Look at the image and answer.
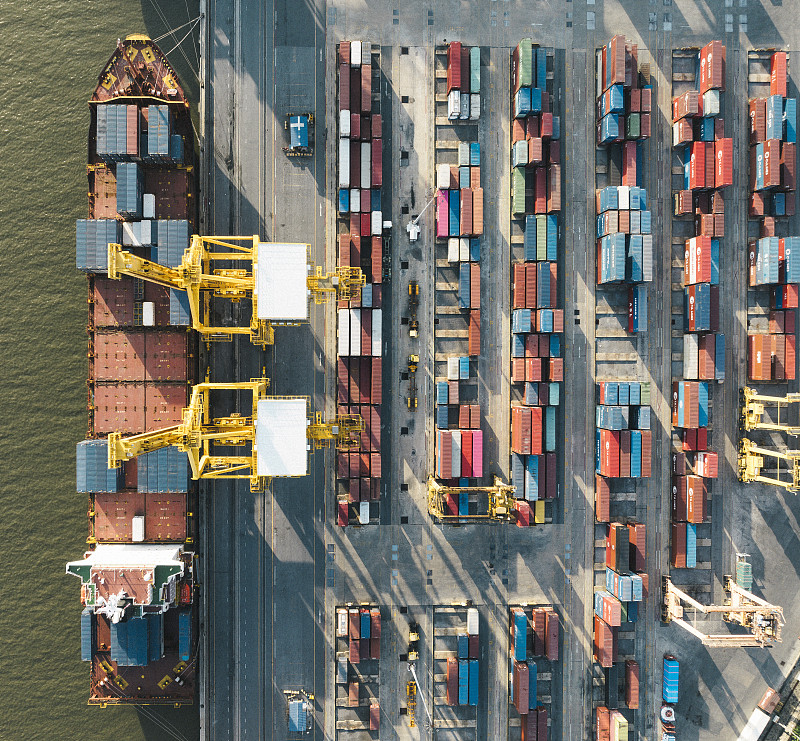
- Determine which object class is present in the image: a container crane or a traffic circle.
container crane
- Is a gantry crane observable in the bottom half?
Yes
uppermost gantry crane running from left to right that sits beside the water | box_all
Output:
[106,234,370,353]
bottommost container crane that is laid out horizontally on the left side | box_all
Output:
[106,367,370,496]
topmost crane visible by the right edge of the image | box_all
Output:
[738,389,800,433]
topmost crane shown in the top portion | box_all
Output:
[403,193,437,249]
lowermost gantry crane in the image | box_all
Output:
[664,586,784,647]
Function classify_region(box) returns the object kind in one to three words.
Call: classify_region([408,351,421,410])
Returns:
vehicle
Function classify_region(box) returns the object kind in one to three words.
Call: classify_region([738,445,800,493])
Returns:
container crane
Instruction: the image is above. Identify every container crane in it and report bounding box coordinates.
[106,367,370,496]
[427,471,524,521]
[106,234,370,353]
[738,389,800,433]
[664,586,784,647]
[738,445,800,493]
